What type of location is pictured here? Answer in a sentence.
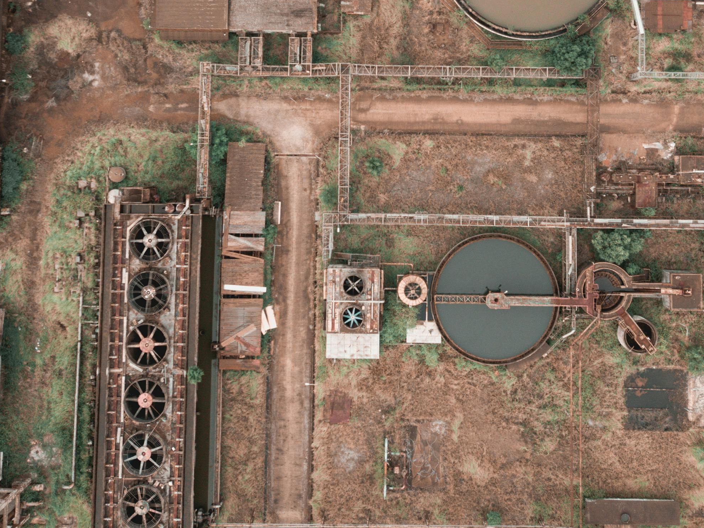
It's an industrial area.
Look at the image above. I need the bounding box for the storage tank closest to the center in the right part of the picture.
[428,235,562,365]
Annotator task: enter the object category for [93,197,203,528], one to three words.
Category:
cooling tower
